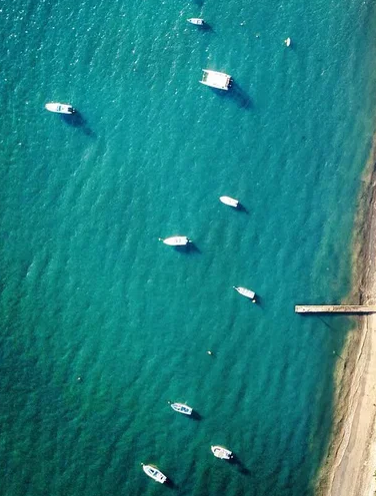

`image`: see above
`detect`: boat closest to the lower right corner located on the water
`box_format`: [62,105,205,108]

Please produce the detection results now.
[211,448,234,462]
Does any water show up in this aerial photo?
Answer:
Yes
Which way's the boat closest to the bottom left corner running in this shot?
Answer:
on a diagonal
